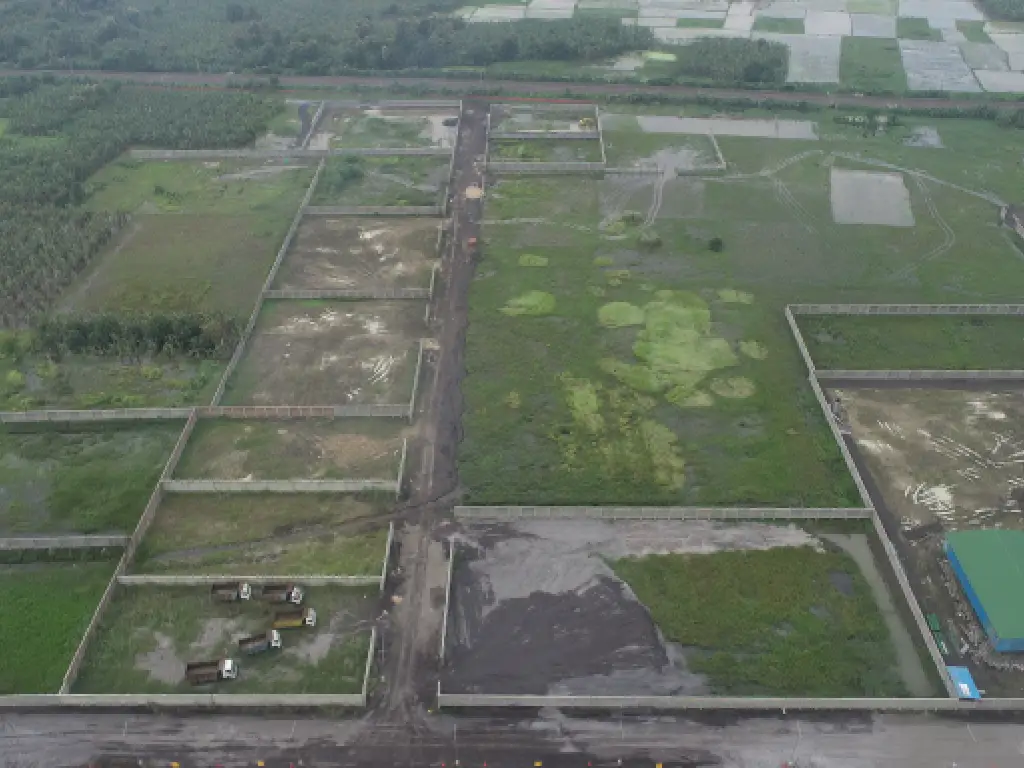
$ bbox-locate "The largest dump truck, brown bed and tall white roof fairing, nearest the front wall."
[180,656,240,686]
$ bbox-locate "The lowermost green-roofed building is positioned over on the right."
[943,529,1024,652]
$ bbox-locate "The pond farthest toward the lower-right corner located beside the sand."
[836,532,935,696]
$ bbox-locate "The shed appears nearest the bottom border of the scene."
[947,667,980,698]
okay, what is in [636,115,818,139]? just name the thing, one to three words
pond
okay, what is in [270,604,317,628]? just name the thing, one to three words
truck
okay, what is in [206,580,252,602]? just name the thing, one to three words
truck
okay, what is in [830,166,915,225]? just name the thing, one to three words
pond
